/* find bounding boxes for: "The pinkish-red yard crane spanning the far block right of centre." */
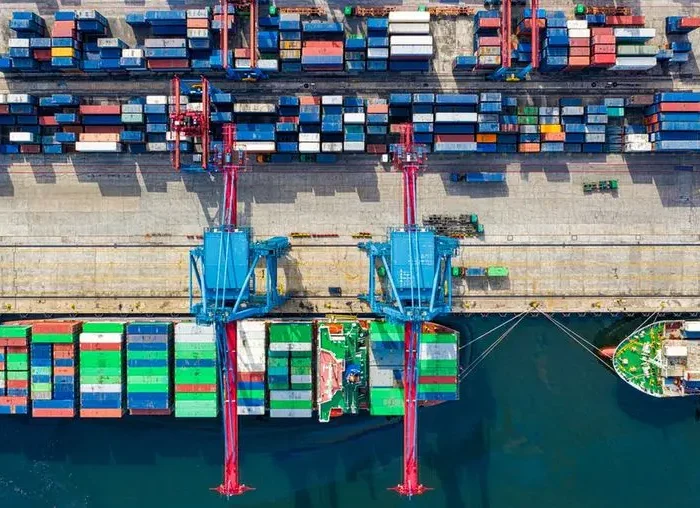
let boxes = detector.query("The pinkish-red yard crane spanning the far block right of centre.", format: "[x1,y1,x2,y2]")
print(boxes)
[487,0,540,82]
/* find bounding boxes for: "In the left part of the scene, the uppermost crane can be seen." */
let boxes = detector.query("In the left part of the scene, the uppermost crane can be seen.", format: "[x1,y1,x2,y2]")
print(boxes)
[218,0,267,83]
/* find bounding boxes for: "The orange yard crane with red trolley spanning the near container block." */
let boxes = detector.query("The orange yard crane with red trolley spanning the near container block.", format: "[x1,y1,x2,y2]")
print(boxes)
[170,76,222,176]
